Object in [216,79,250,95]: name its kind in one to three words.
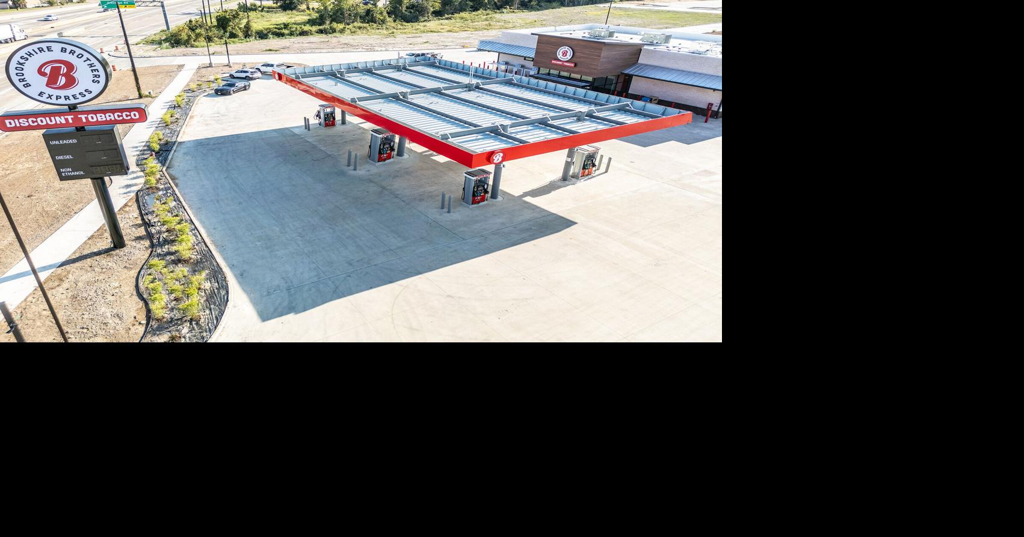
car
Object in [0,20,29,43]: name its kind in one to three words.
truck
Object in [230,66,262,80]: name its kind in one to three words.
car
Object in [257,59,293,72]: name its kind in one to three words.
vehicle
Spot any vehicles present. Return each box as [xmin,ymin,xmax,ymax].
[216,79,250,95]
[230,66,262,80]
[47,12,60,20]
[0,20,29,43]
[257,59,293,72]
